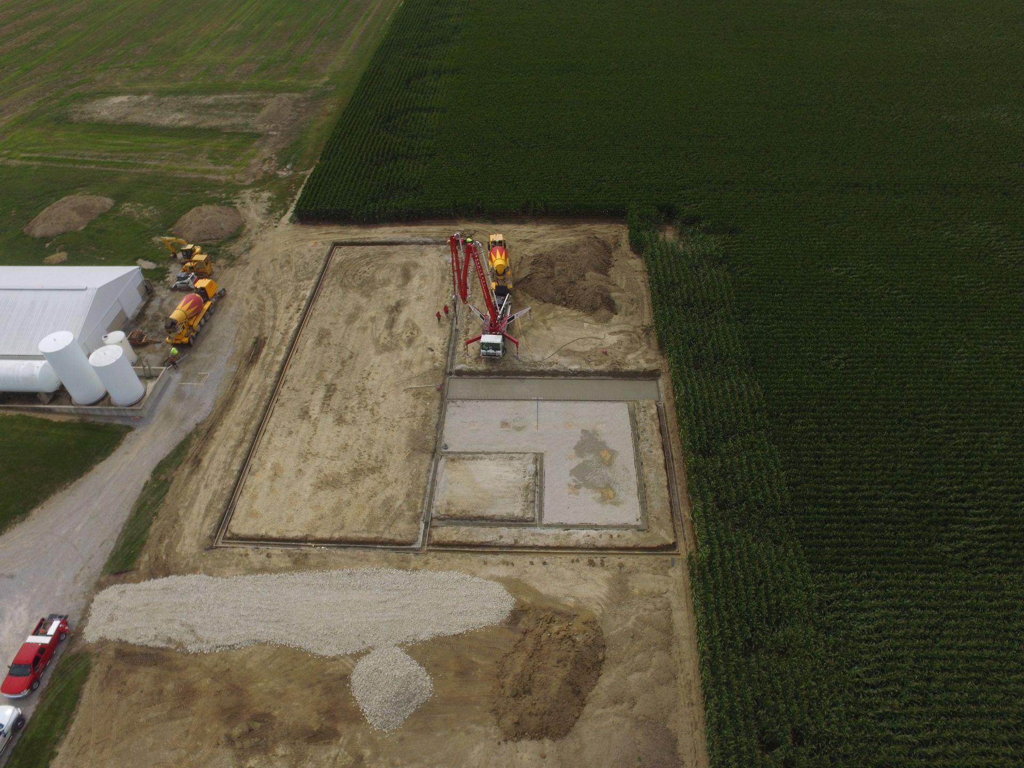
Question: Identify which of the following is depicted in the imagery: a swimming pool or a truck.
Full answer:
There is a truck in the scene.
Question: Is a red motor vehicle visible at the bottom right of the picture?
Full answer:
No, no red motor vehicle can be made out at the bottom right of the picture.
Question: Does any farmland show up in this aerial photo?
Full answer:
Yes, there is farmland in the image.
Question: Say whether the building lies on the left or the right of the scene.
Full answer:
You can find the building on the left side of the picture.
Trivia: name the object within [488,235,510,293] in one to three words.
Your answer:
truck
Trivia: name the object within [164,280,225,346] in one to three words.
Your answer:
truck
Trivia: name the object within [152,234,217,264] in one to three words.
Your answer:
work vehicle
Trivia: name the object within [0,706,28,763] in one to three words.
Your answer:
vehicle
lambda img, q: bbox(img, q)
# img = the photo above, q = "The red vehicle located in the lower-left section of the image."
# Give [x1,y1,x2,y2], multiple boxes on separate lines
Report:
[5,620,70,699]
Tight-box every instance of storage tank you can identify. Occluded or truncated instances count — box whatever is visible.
[89,346,145,407]
[0,364,69,400]
[39,332,106,405]
[102,329,141,366]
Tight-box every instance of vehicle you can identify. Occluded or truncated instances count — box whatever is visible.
[152,234,217,264]
[168,270,197,290]
[488,235,510,293]
[175,257,216,280]
[450,229,533,360]
[164,280,225,346]
[0,706,28,763]
[5,620,70,699]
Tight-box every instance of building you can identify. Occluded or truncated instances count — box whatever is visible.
[0,266,154,371]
